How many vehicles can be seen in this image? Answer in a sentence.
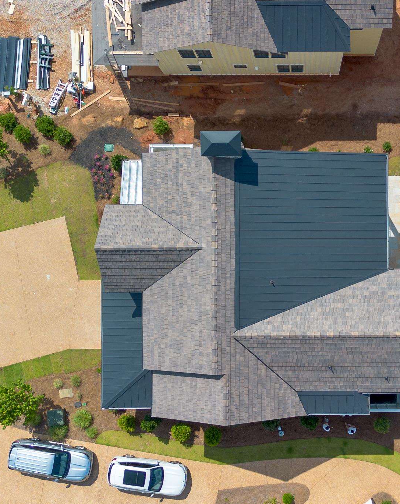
Altogether the scene contains 2 vehicles.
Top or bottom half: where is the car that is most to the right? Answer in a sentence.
You can find the car that is most to the right in the bottom half.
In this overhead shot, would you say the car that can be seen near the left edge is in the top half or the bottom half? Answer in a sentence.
The car that can be seen near the left edge sits in the bottom half of the picture.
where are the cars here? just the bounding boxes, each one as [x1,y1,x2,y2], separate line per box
[107,454,190,501]
[8,437,98,485]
